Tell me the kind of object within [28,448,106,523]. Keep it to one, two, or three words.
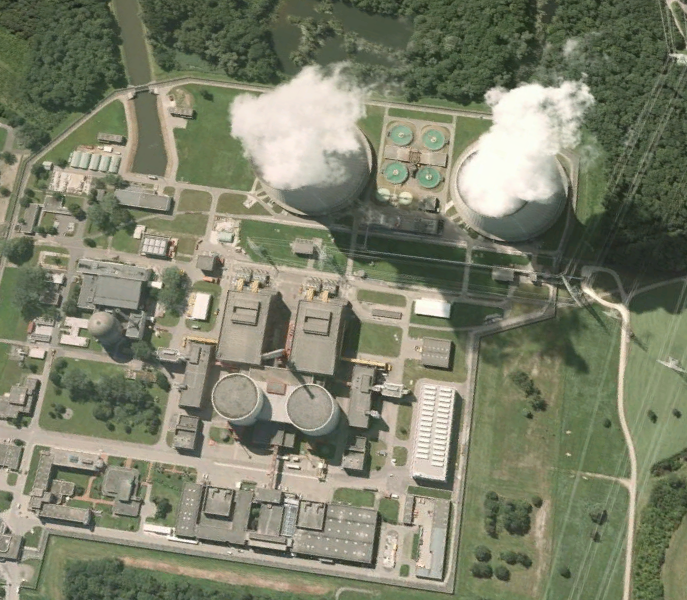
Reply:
building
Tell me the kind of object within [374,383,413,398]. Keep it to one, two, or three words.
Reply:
house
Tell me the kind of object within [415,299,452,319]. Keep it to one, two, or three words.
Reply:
building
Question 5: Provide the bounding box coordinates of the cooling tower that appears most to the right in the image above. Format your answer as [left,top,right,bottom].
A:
[454,129,567,242]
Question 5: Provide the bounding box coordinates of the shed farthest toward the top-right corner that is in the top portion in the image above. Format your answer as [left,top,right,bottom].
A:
[420,152,448,166]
